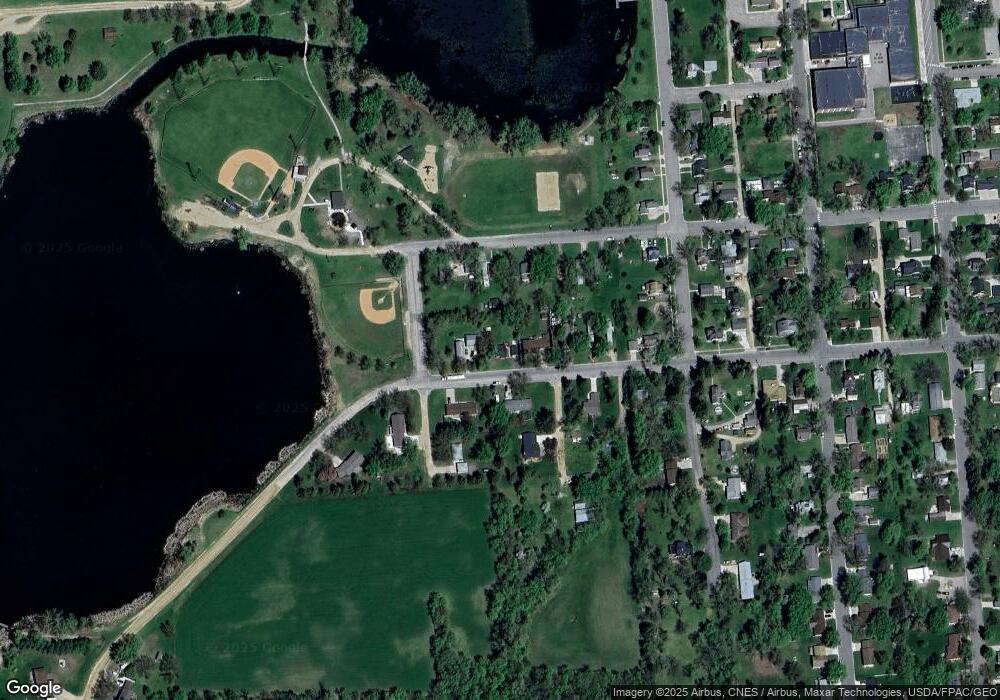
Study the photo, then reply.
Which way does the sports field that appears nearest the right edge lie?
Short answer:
from side to side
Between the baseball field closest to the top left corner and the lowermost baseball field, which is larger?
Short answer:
the baseball field closest to the top left corner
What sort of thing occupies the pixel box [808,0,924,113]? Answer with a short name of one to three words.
building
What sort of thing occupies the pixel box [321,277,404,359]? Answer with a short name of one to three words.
baseball field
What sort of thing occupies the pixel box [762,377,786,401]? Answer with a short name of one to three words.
house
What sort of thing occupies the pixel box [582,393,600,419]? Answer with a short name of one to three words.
house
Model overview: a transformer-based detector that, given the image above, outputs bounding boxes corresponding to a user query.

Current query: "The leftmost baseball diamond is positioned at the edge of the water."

[161,77,317,217]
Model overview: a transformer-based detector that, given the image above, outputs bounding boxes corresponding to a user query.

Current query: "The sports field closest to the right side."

[452,154,640,231]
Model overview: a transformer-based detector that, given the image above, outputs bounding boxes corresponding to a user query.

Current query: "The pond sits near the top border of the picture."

[356,0,639,139]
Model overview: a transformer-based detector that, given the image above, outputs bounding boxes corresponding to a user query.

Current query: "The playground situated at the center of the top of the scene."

[417,144,438,193]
